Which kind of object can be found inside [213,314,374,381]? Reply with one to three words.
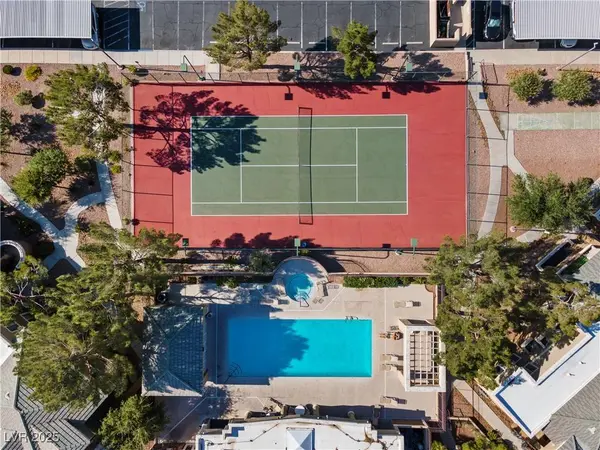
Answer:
swimming pool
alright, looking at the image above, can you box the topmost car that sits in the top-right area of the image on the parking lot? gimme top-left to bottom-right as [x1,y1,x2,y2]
[480,0,503,43]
